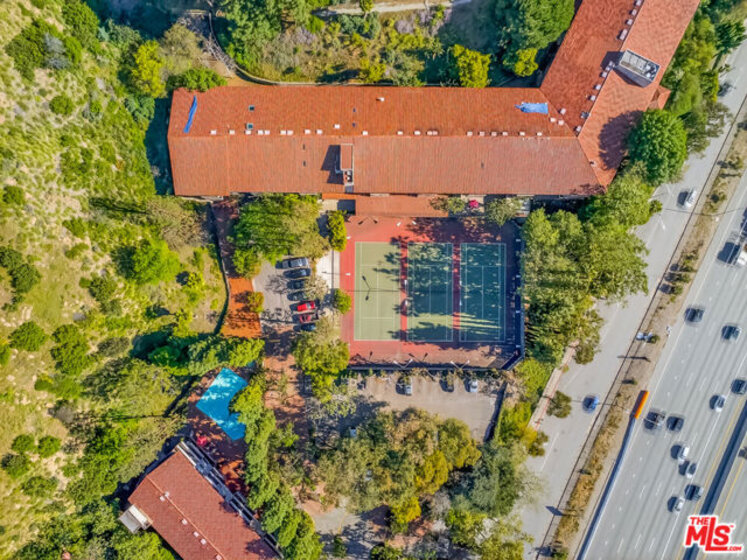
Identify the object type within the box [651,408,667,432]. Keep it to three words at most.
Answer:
vehicle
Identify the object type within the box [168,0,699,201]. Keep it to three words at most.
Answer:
building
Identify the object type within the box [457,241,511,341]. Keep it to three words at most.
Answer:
tennis court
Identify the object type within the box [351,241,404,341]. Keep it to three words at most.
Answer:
tennis court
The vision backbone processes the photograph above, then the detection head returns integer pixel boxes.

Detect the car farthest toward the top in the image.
[721,78,736,98]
